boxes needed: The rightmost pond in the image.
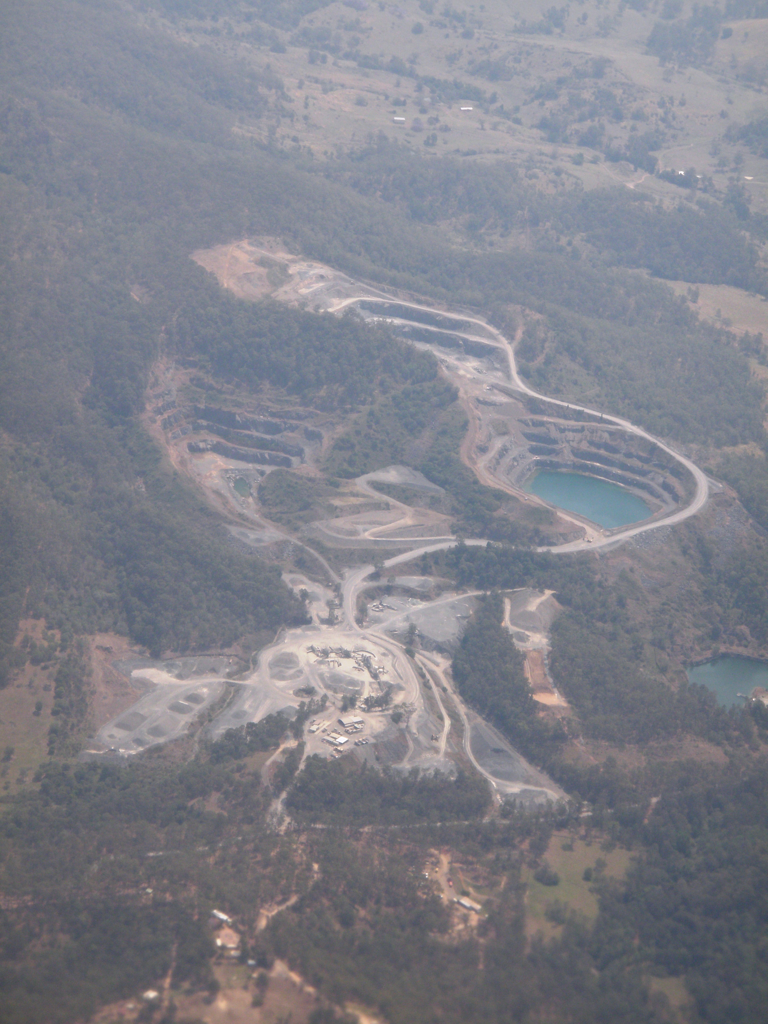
[683,653,768,717]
